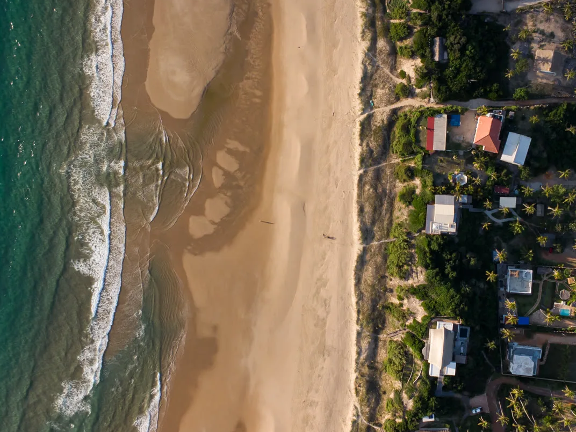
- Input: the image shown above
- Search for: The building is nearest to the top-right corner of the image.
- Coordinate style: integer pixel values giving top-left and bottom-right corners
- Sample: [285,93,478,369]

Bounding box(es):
[534,49,566,78]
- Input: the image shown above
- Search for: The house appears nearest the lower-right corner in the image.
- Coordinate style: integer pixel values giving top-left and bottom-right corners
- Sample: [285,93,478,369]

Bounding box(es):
[507,340,542,376]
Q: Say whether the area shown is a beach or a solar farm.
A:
beach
